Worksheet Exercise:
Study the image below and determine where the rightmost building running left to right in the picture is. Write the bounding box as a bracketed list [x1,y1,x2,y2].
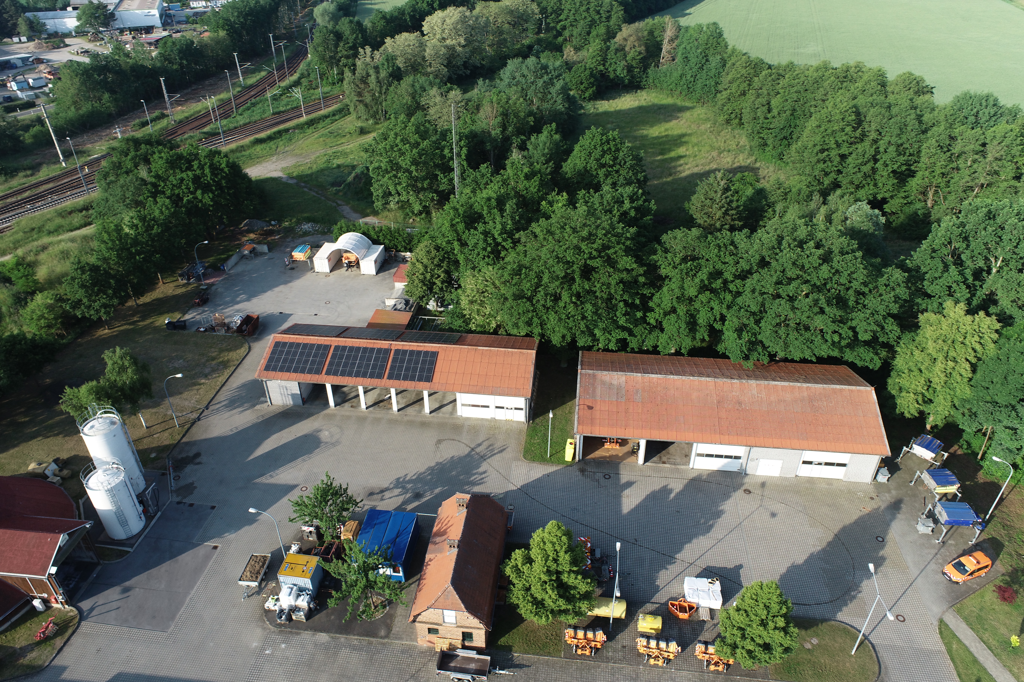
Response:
[574,349,894,485]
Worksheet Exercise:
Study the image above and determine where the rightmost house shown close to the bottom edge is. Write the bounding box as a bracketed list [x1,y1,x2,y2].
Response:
[407,491,511,652]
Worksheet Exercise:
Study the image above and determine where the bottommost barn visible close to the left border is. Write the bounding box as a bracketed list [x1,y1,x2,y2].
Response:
[0,473,103,630]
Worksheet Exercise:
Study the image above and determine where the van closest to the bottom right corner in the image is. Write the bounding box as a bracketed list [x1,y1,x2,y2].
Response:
[945,545,997,586]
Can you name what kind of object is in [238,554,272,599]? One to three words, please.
trailer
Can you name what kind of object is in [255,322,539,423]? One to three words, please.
building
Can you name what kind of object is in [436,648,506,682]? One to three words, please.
trailer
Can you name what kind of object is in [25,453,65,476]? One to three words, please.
water tank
